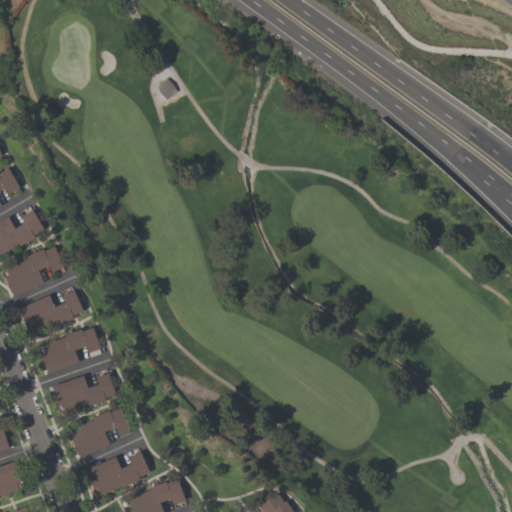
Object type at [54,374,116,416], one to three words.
house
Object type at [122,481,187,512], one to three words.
house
